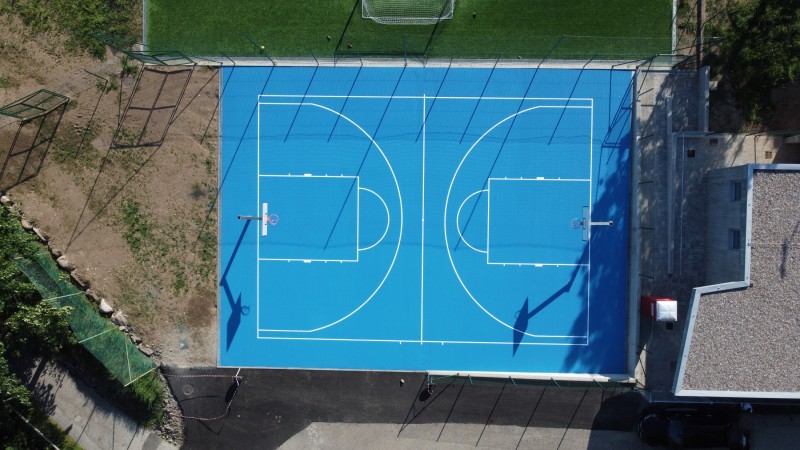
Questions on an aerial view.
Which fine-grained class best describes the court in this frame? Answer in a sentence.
The court is a basketball court.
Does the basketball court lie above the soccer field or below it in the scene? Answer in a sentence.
In the image, the basketball court appears below the soccer field.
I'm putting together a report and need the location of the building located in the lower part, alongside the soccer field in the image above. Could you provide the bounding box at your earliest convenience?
[670,166,800,400]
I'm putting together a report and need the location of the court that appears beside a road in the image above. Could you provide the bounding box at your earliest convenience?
[217,66,634,375]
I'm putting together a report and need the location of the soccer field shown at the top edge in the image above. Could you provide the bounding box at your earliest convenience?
[142,0,678,59]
